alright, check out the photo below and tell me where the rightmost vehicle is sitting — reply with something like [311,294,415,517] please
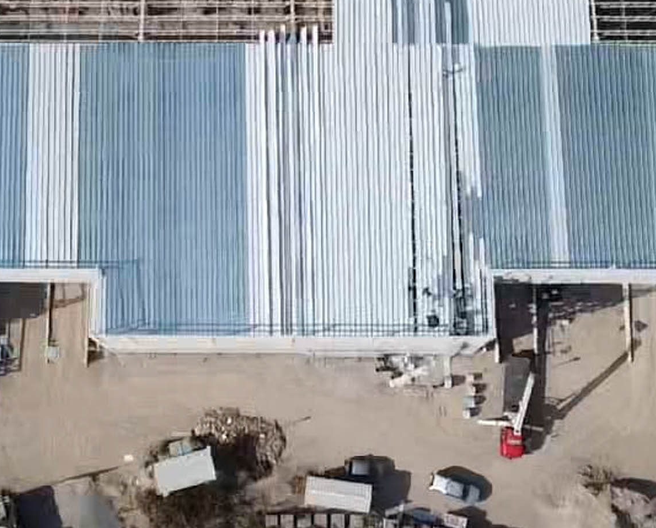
[473,352,541,459]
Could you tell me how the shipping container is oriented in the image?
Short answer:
from side to side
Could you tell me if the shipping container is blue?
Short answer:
No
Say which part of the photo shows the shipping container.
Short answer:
bottom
